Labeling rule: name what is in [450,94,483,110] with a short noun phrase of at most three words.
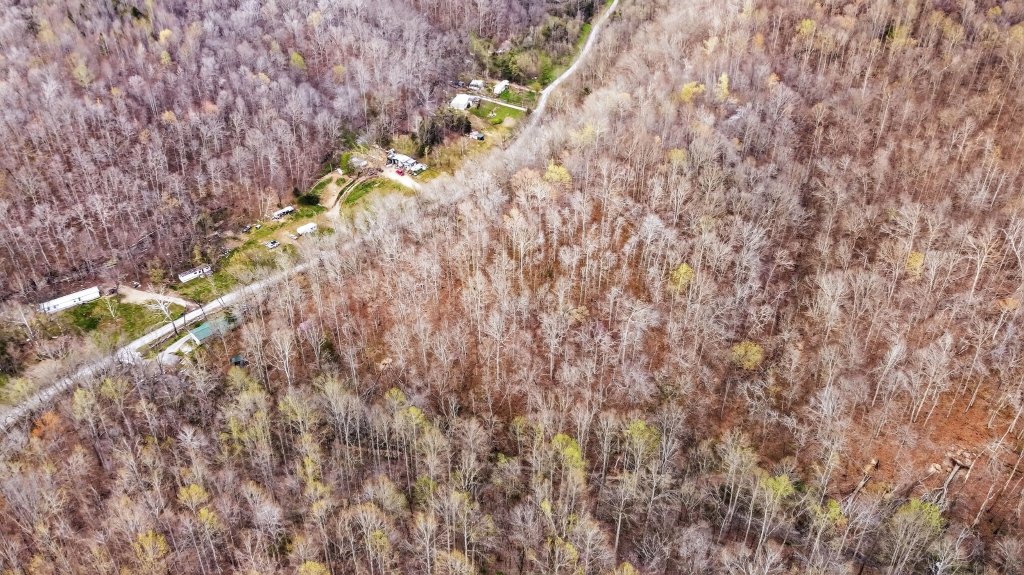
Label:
barn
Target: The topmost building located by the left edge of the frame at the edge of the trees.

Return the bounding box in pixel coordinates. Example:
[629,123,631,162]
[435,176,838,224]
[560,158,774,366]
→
[41,286,100,314]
